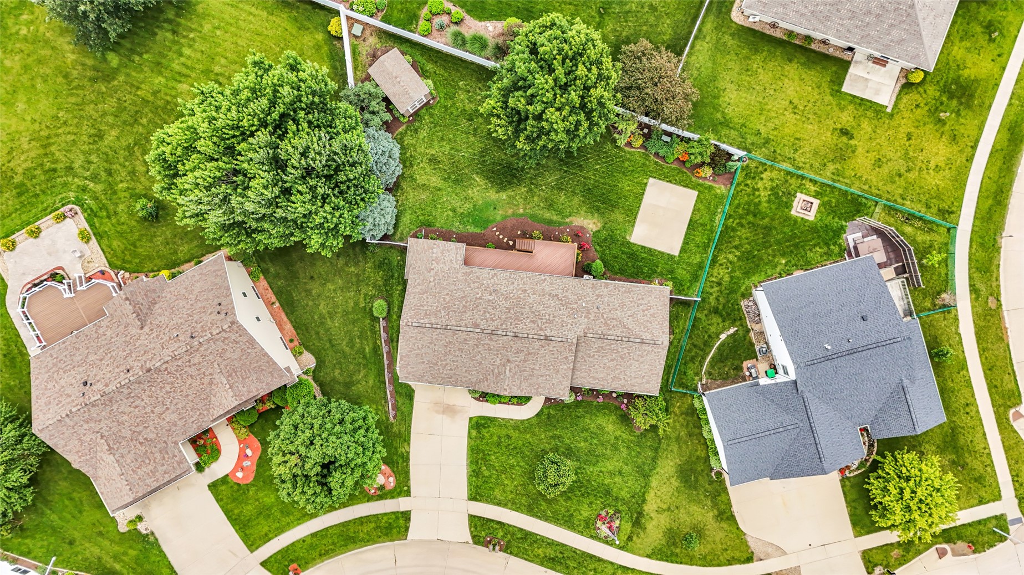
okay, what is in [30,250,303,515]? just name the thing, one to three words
house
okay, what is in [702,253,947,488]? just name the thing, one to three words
house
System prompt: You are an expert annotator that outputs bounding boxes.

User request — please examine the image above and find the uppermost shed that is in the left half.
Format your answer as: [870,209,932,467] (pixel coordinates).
[367,47,432,116]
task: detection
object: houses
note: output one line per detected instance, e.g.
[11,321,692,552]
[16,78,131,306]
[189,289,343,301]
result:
[30,250,303,515]
[738,0,956,73]
[702,253,947,488]
[0,559,37,575]
[397,239,671,401]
